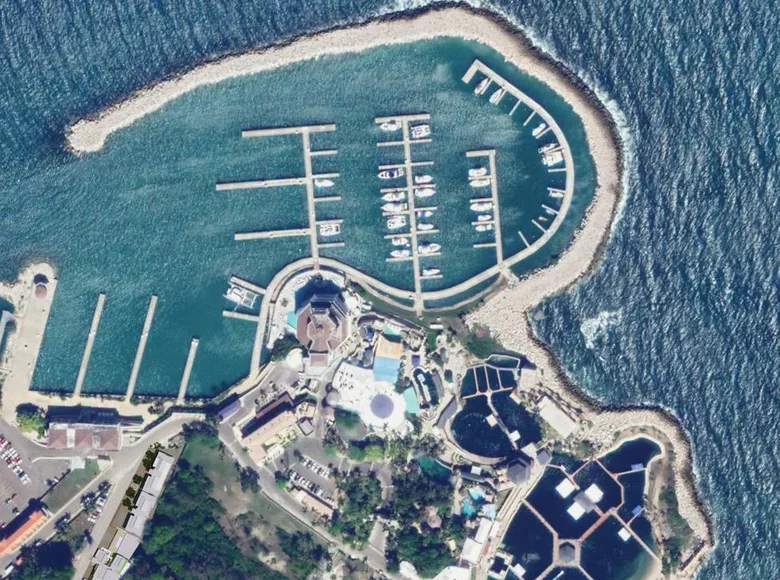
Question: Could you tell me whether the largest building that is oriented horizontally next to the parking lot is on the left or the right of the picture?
left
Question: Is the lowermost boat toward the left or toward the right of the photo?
left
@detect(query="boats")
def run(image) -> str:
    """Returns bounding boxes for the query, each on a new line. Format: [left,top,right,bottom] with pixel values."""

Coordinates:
[414,188,435,197]
[392,238,408,245]
[468,168,487,176]
[539,143,558,153]
[382,193,404,201]
[542,150,564,167]
[388,216,406,229]
[470,203,492,211]
[491,87,504,104]
[380,121,401,130]
[314,179,333,187]
[382,203,407,211]
[548,191,564,197]
[415,176,433,184]
[478,215,491,221]
[411,125,430,138]
[417,223,433,230]
[476,77,490,93]
[391,251,410,258]
[470,179,490,187]
[532,122,547,136]
[475,225,486,231]
[417,244,440,252]
[222,284,260,309]
[320,223,340,236]
[423,269,440,276]
[378,169,404,178]
[417,211,433,217]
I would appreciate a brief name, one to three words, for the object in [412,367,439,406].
swimming pool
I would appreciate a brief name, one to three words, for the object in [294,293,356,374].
building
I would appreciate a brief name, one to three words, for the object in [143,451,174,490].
house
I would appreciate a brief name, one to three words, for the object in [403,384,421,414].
swimming pool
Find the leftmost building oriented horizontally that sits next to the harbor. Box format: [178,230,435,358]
[48,423,120,451]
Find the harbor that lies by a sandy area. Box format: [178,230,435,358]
[28,258,517,405]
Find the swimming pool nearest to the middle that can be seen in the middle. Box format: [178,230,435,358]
[379,325,404,338]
